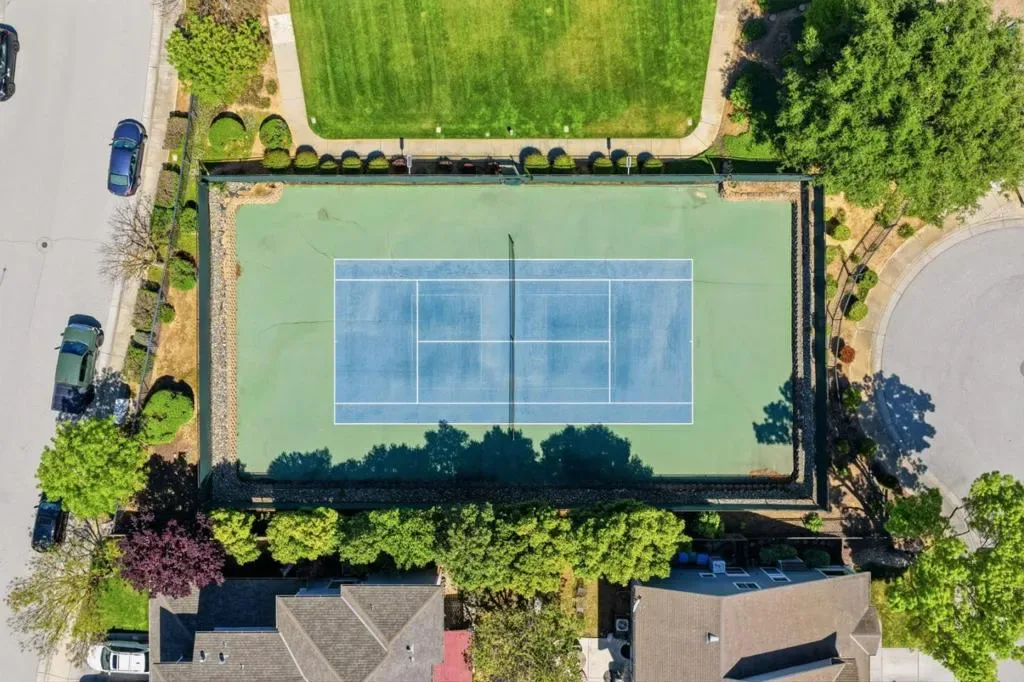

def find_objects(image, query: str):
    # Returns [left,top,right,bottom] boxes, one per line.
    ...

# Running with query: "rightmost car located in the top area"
[107,122,147,198]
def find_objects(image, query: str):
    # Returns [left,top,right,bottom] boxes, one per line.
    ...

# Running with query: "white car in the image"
[88,638,149,677]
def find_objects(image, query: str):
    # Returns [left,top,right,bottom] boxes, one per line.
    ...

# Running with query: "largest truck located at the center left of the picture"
[54,320,104,418]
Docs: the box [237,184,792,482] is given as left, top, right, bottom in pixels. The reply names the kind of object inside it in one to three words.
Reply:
tennis court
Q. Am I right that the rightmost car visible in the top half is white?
No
